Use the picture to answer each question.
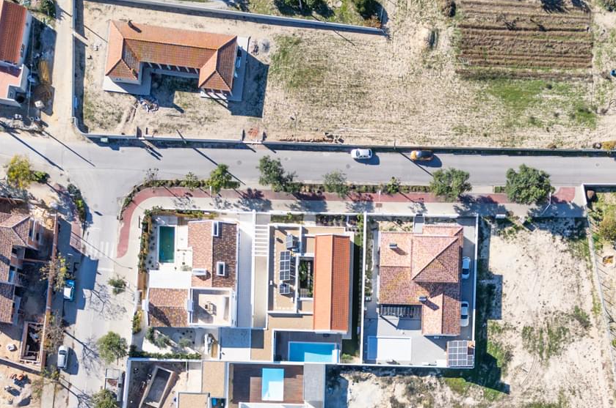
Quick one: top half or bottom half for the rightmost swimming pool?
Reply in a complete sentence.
Seen from above, the rightmost swimming pool lies in the bottom half of the view.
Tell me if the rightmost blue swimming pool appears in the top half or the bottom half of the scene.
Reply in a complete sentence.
The rightmost blue swimming pool sits in the bottom half of the picture.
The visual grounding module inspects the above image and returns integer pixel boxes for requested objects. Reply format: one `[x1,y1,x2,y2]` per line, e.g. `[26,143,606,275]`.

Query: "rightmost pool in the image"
[367,337,412,361]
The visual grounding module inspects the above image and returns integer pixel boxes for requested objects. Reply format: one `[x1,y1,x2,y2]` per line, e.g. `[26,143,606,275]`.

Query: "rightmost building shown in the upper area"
[103,21,250,102]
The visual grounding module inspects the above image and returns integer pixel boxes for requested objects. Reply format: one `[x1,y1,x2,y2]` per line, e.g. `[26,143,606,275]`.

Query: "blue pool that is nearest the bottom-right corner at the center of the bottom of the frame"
[287,342,337,362]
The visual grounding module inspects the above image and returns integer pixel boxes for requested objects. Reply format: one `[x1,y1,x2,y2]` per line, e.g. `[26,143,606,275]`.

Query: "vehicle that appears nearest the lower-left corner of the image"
[57,348,70,370]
